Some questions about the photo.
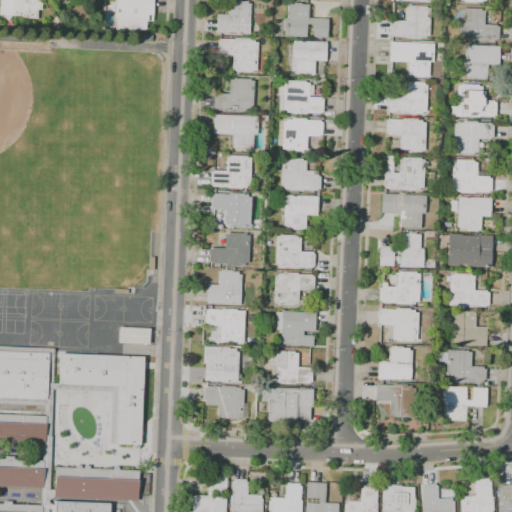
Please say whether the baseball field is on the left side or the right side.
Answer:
left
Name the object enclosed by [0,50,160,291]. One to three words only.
baseball field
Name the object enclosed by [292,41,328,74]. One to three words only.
house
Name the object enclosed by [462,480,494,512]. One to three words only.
house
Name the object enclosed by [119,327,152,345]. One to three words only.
building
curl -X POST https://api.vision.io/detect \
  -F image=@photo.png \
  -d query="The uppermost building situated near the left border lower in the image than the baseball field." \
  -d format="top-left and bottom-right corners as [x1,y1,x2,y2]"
[0,352,50,400]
